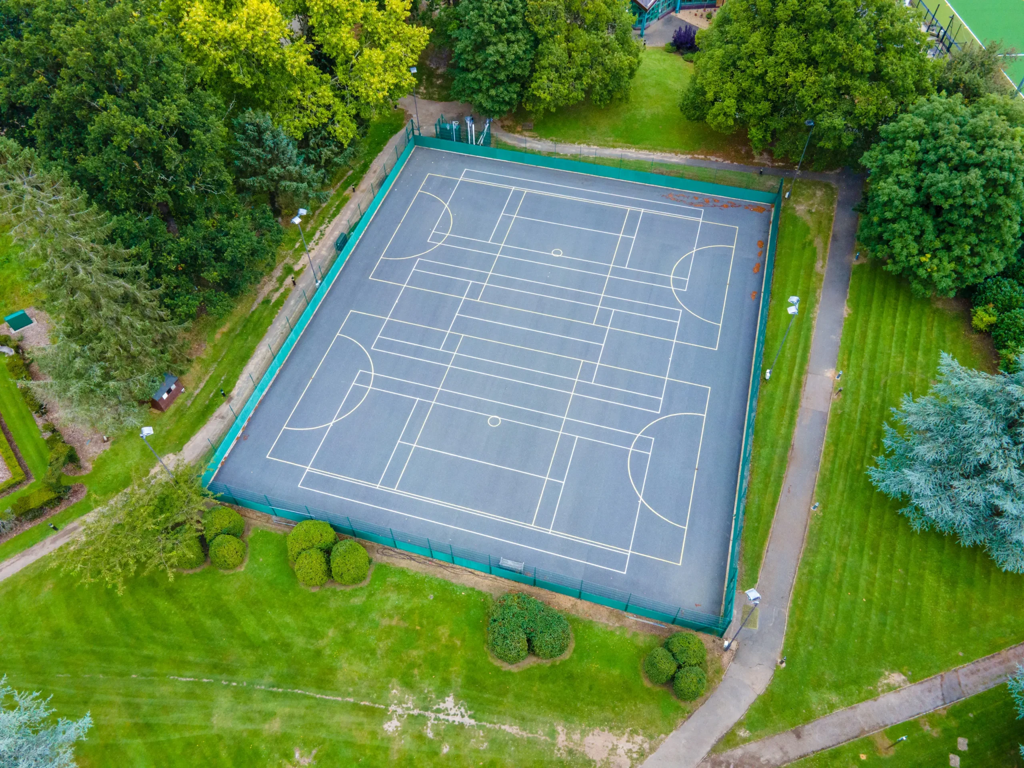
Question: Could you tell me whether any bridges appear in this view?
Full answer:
No, I can see no bridge in this picture.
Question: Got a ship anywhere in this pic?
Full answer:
No, I find no ship anywhere in the image.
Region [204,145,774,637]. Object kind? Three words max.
sports court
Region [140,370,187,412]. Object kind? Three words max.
shed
